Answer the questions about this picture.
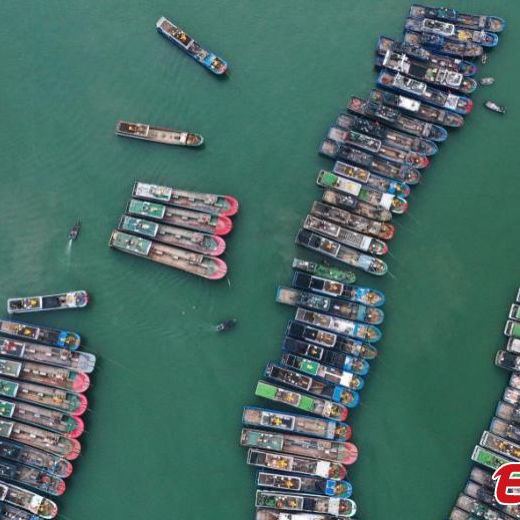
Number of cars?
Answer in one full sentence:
No cars are visible.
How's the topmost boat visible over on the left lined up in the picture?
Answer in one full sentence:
What the image shows is the topmost boat visible over on the left lying at an angle.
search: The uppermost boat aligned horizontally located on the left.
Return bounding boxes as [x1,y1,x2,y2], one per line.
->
[114,123,204,149]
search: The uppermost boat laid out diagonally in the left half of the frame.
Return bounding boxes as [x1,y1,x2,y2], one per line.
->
[155,18,228,75]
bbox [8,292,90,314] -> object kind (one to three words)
boat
